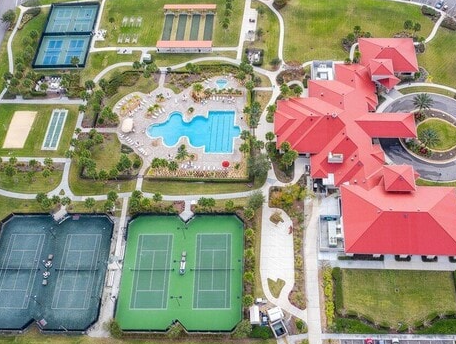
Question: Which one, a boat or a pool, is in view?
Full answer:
The image shows a pool.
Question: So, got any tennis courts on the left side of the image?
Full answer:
Yes, a tennis court appears on the left side of the image.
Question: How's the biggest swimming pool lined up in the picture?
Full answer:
The biggest swimming pool is laid out horizontally.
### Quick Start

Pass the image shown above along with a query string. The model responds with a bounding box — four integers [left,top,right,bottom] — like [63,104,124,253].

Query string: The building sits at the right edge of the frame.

[276,37,456,261]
